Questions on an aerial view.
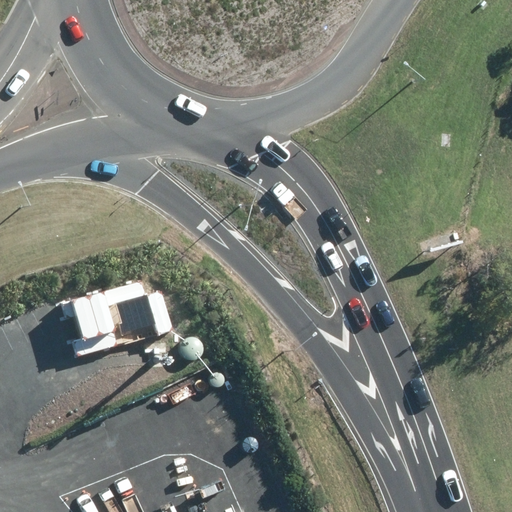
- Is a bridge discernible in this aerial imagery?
No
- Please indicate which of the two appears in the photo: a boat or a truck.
truck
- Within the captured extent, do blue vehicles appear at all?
Yes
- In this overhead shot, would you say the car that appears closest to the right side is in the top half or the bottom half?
bottom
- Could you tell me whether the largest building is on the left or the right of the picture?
left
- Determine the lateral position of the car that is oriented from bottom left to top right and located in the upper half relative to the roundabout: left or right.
on the left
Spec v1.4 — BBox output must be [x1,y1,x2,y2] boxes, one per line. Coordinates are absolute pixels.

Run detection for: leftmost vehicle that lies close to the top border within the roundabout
[66,15,84,42]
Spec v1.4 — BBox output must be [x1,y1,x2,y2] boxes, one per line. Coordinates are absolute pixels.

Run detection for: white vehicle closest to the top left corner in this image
[5,67,29,98]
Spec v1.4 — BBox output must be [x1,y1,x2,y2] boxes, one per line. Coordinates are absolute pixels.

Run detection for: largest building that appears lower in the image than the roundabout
[56,280,172,358]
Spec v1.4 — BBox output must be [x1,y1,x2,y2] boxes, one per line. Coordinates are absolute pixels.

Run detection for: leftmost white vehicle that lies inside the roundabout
[174,94,207,117]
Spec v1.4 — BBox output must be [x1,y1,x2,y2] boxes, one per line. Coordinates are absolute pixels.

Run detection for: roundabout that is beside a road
[46,0,417,168]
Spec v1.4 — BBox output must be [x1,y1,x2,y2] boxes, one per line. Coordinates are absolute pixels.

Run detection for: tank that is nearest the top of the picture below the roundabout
[176,336,203,362]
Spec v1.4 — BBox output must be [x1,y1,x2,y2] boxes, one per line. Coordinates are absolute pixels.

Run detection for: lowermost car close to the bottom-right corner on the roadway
[443,470,462,503]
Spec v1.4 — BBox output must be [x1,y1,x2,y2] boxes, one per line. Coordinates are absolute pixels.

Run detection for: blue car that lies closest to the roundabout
[90,160,118,176]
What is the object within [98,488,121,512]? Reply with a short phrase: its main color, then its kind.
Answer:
white truck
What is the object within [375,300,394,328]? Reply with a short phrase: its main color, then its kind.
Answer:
blue car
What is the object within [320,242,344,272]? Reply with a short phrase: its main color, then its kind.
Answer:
white car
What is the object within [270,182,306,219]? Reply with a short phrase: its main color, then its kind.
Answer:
white truck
